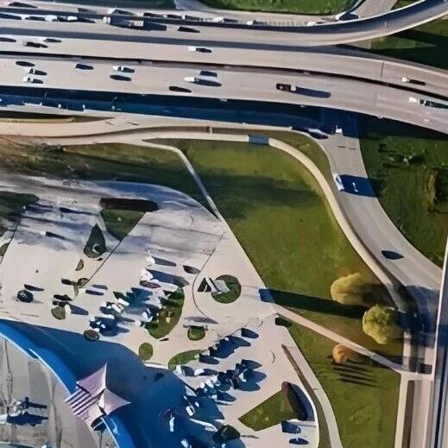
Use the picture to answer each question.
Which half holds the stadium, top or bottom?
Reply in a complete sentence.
Seen from above, the stadium lies in the bottom half of the view.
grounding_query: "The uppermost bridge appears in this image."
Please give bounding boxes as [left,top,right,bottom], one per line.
[0,0,448,50]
